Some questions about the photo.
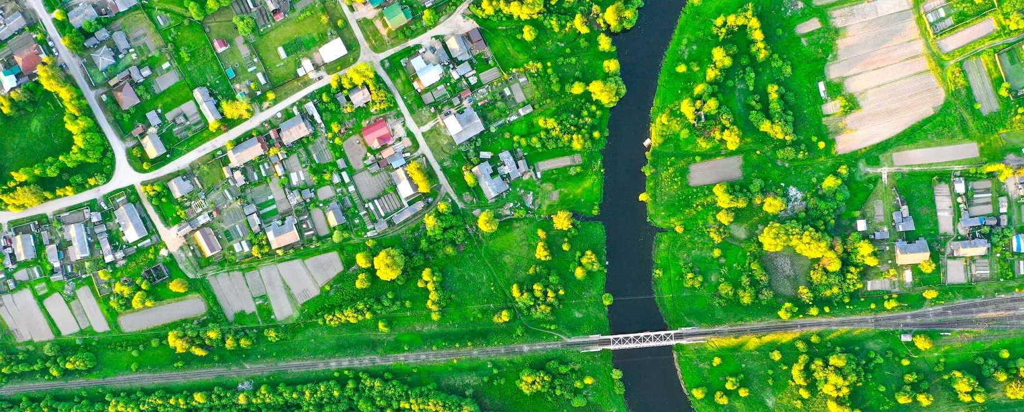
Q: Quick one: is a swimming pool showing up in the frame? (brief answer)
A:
No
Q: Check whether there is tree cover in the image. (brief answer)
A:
Yes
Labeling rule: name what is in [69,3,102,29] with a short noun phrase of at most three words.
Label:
house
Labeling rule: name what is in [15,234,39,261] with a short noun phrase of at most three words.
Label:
house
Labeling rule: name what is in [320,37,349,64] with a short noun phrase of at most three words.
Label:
building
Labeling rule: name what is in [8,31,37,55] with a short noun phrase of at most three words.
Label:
barn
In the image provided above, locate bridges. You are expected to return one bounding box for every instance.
[573,326,708,354]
